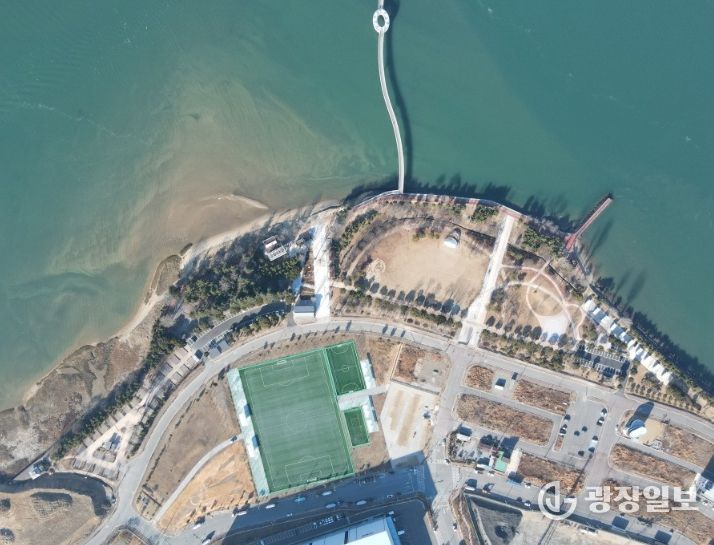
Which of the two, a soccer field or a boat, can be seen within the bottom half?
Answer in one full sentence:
The feature located within the bottom half is a soccer field.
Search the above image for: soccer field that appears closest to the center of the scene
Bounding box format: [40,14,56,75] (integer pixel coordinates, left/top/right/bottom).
[326,340,365,394]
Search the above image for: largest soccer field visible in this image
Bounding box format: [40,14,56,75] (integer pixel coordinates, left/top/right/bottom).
[238,348,354,493]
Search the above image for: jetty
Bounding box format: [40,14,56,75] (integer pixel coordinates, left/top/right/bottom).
[563,195,615,250]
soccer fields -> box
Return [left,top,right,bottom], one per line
[238,348,354,493]
[326,340,365,394]
[344,408,368,445]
